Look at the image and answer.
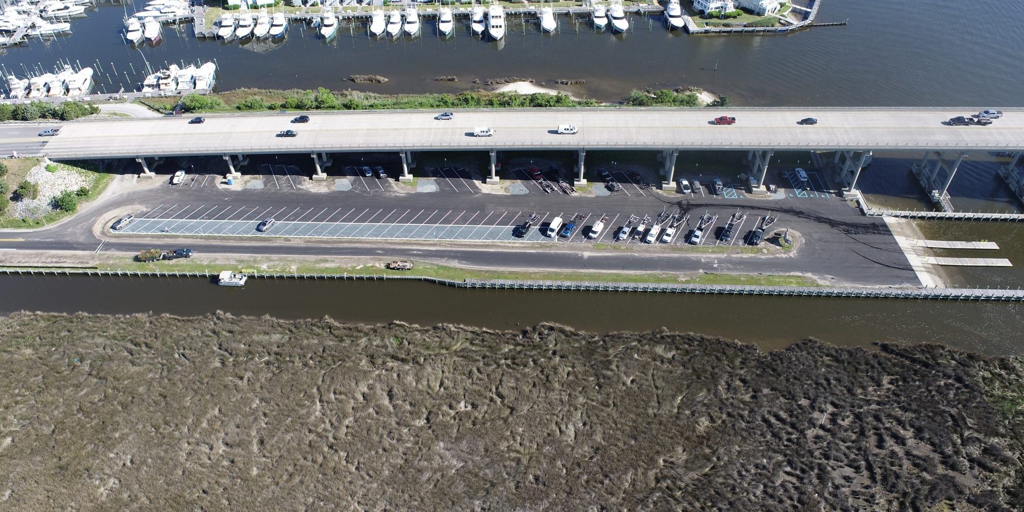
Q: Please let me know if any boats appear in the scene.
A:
Yes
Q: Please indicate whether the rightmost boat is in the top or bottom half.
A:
top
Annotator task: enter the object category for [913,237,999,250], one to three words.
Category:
pier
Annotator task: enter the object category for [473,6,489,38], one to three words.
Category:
boat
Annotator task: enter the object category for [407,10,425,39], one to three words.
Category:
boat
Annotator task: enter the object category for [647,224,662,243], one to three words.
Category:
car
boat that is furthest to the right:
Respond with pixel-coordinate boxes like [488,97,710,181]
[662,0,684,32]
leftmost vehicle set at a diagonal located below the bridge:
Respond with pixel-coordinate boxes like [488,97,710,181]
[111,212,135,230]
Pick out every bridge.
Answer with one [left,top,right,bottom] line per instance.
[33,106,1024,206]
